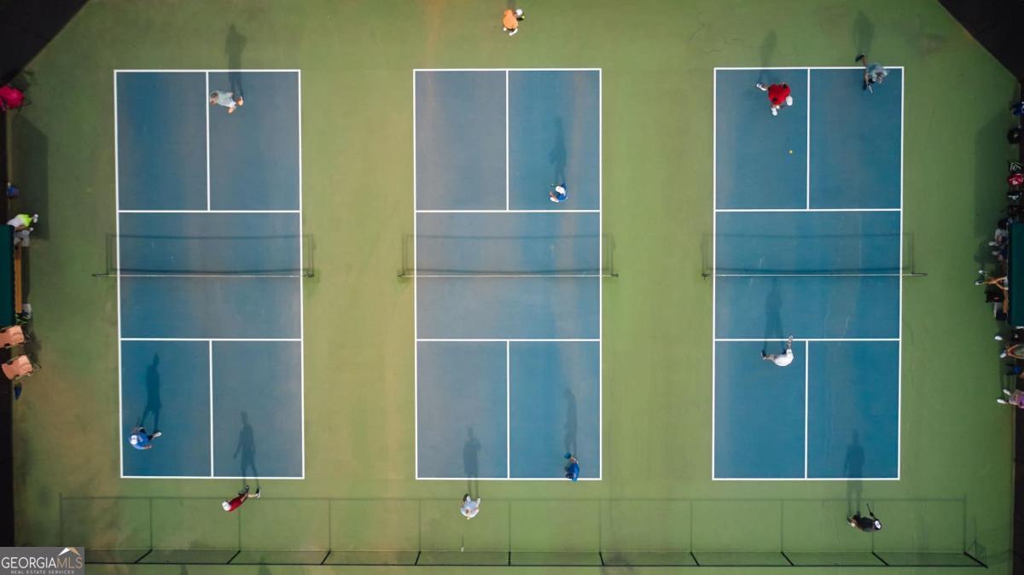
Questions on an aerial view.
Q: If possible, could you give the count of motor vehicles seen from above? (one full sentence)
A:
No motor vehicles are visible.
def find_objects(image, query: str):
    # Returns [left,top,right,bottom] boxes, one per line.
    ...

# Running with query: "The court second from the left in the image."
[413,68,602,480]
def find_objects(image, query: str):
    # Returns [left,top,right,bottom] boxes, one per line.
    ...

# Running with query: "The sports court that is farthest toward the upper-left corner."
[114,69,304,479]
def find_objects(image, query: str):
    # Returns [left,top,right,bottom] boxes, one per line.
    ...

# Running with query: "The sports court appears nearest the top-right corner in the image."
[712,66,904,480]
